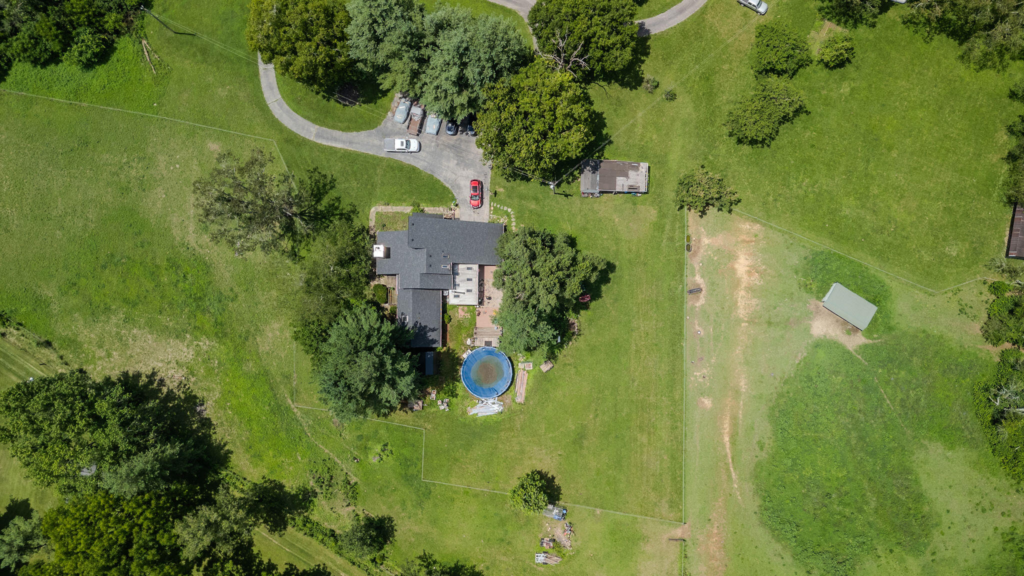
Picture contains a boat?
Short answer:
No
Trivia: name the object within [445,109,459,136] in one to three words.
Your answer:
car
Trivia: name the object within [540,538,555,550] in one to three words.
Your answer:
vehicle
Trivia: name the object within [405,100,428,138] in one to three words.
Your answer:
truck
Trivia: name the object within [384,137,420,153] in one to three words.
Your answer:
vehicle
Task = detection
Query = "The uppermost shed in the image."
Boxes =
[581,159,648,193]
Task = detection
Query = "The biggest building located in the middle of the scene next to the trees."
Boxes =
[373,212,505,348]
